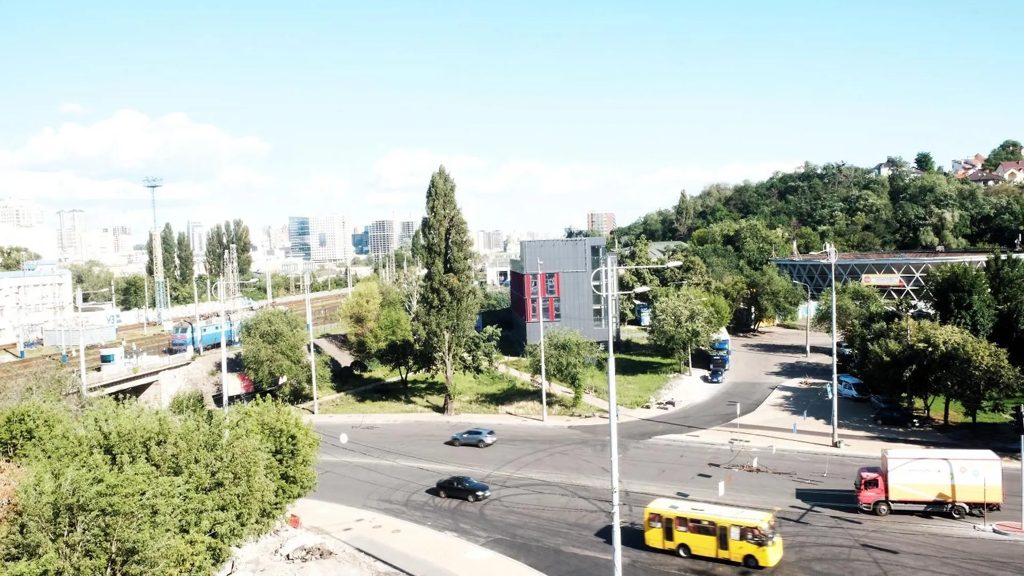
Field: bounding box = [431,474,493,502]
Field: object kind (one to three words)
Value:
car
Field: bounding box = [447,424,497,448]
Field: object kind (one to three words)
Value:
car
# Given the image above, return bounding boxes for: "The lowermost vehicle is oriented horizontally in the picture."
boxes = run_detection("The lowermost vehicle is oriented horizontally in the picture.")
[647,500,781,567]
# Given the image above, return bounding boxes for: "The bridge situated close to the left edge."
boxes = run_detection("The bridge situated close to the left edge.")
[0,356,194,406]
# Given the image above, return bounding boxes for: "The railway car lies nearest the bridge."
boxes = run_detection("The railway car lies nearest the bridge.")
[169,313,243,349]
